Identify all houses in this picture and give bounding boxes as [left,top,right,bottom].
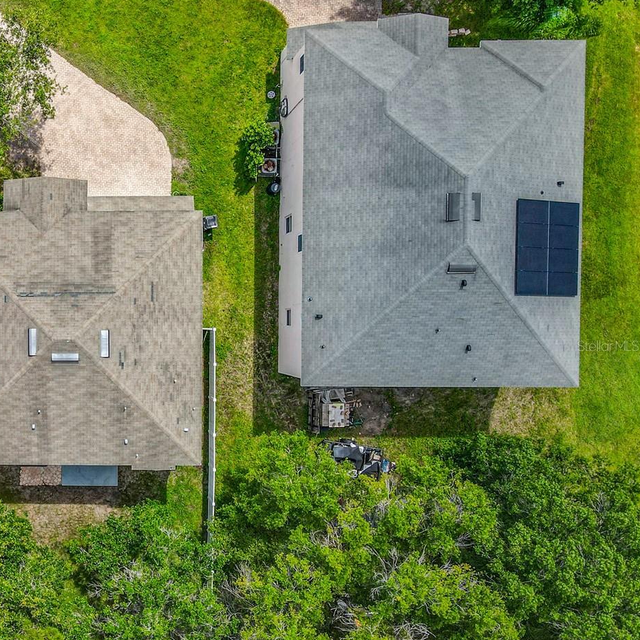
[0,176,202,470]
[280,11,583,387]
